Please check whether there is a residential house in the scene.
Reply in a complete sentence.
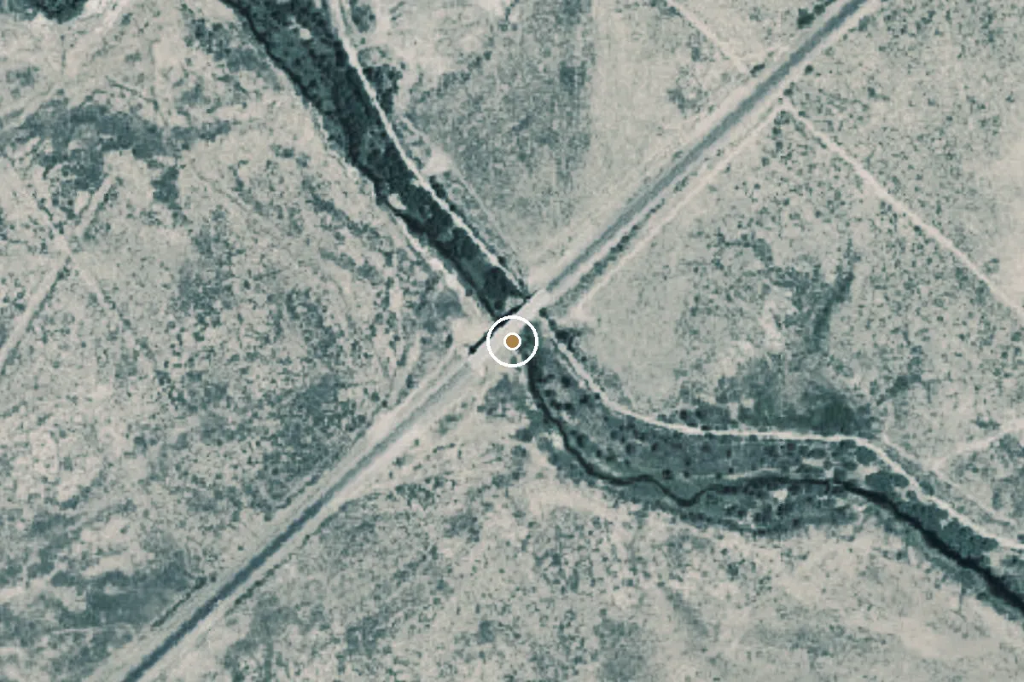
No, I find no residential house anywhere in the image.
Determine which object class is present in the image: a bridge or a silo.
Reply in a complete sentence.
This aerial view contains a bridge.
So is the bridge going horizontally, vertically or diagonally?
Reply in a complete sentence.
The bridge is laid out diagonally.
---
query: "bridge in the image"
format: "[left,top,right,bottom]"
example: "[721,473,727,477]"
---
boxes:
[464,285,557,374]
